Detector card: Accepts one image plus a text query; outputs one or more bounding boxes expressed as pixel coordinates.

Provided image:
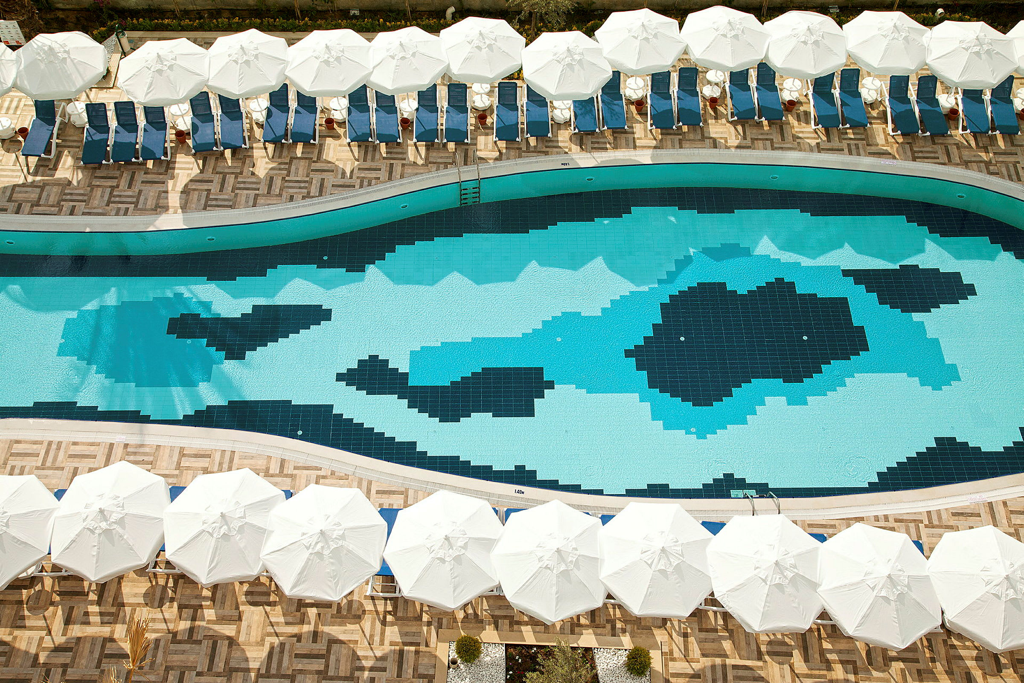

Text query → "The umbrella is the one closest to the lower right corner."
[930,525,1024,649]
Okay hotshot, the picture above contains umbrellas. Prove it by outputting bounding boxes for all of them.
[824,524,940,649]
[522,30,612,125]
[928,21,1017,117]
[930,525,1024,649]
[53,462,170,581]
[119,34,208,132]
[265,483,386,600]
[383,488,507,609]
[284,28,370,125]
[500,498,615,621]
[168,466,284,584]
[607,502,718,616]
[203,28,289,126]
[596,8,687,103]
[441,16,525,111]
[363,26,449,123]
[19,31,115,129]
[0,463,67,577]
[680,5,766,101]
[844,10,933,105]
[762,8,852,104]
[0,43,37,140]
[712,515,827,632]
